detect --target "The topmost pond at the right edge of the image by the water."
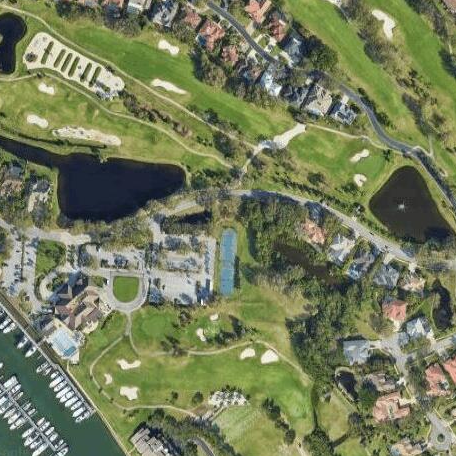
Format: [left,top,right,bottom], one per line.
[369,166,454,243]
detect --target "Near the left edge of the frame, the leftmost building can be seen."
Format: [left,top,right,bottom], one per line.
[0,155,22,203]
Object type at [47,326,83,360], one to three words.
swimming pool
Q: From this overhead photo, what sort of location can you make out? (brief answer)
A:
golf course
